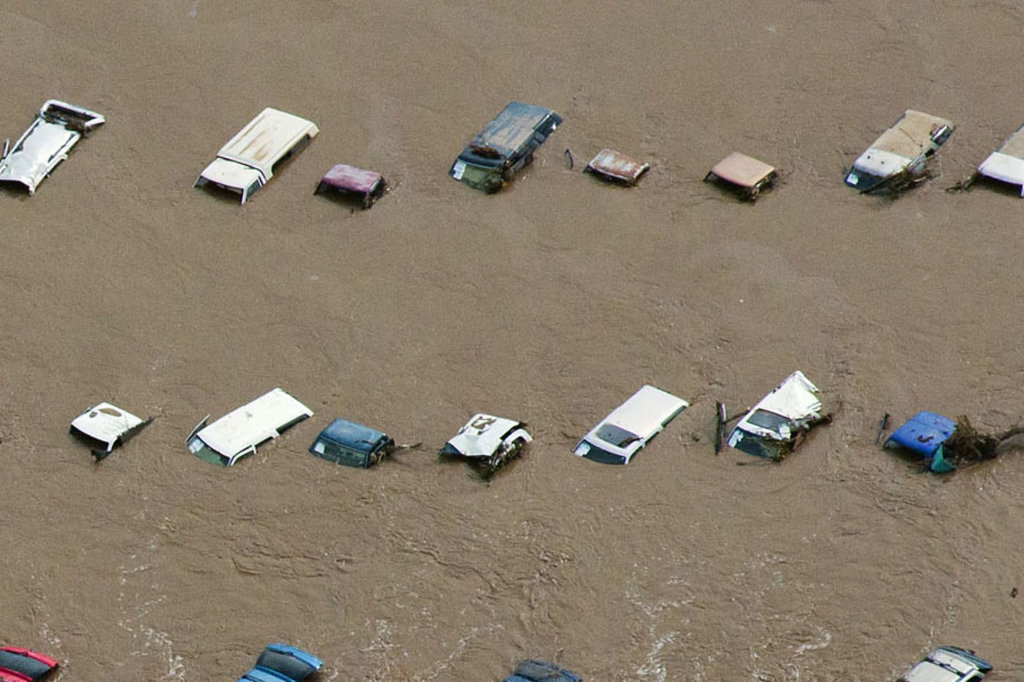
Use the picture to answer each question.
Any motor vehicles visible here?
Yes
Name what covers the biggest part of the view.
water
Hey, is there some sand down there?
No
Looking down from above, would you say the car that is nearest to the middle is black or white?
white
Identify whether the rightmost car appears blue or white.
white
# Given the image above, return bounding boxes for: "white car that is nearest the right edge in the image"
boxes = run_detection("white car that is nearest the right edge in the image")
[975,120,1024,197]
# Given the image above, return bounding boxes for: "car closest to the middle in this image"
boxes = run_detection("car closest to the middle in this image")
[442,413,531,465]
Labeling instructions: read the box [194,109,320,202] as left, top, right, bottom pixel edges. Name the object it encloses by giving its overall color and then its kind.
white truck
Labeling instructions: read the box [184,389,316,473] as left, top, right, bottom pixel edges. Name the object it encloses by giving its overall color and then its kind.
white vehicle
